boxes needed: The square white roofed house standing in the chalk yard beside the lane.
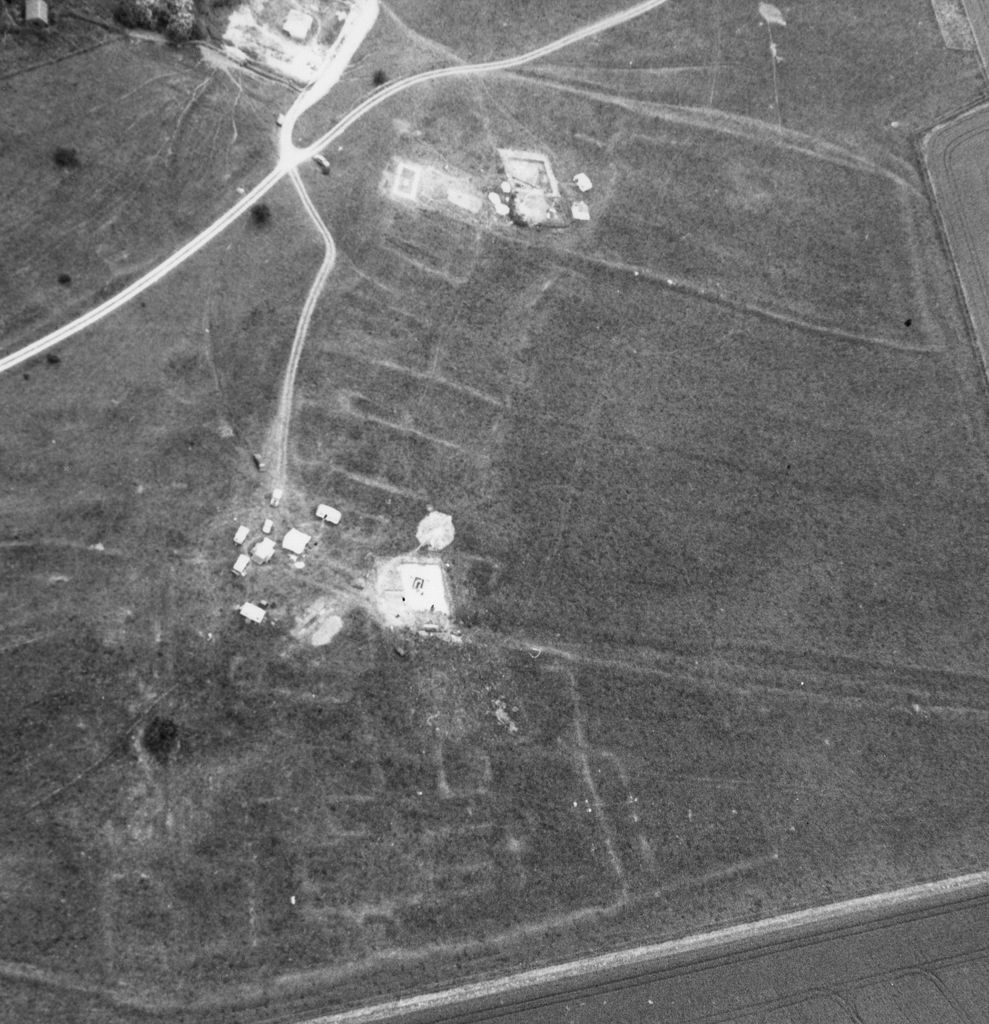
[283,10,313,41]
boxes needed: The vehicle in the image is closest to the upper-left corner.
[276,112,289,127]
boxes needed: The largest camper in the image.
[316,504,343,524]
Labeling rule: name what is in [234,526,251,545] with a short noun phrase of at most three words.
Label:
camper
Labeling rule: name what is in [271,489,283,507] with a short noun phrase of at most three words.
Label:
vehicle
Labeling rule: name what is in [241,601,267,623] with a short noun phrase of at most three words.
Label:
building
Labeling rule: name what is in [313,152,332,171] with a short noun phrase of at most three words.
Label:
car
